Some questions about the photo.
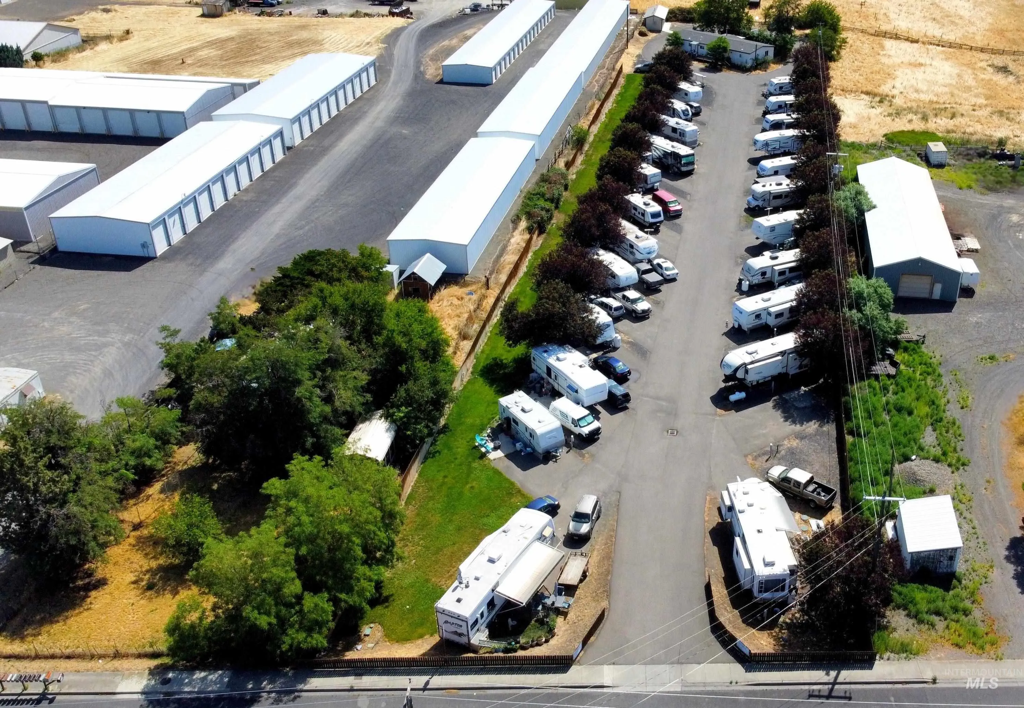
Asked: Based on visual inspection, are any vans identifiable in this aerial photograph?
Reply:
Yes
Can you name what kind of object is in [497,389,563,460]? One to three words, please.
trailer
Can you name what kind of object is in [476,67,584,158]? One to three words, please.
building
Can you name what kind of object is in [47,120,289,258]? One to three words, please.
building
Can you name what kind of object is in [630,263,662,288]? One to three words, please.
truck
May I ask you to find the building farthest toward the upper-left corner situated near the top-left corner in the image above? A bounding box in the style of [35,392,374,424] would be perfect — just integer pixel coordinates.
[0,24,88,64]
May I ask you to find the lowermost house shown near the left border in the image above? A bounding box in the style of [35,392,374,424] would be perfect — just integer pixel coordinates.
[0,369,44,438]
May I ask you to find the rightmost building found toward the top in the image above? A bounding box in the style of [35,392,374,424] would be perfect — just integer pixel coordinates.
[855,155,966,302]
